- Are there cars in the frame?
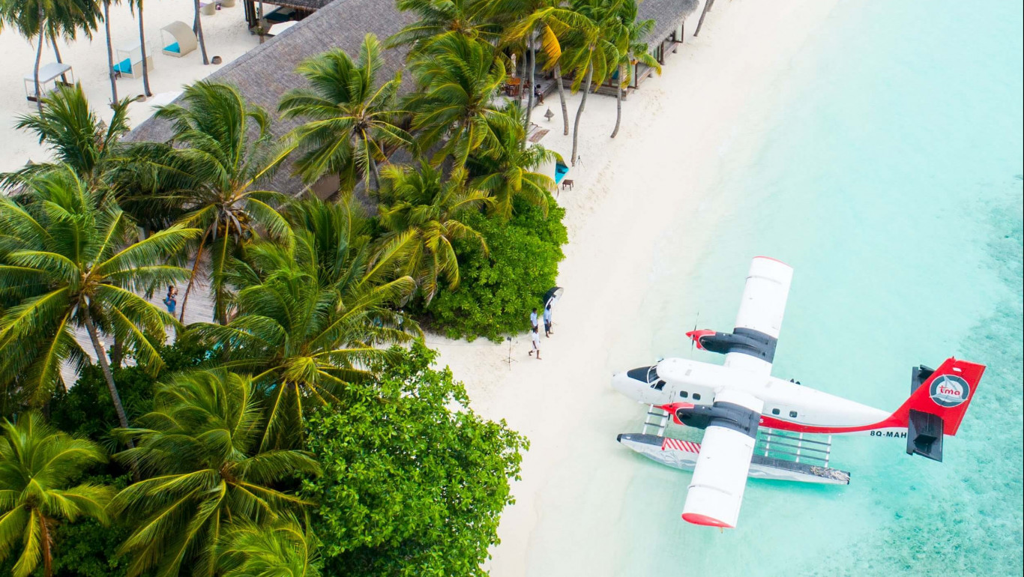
No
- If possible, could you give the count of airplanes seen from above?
one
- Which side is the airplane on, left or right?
right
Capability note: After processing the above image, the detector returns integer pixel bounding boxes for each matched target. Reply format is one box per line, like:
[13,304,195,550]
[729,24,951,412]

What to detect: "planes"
[610,258,986,525]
